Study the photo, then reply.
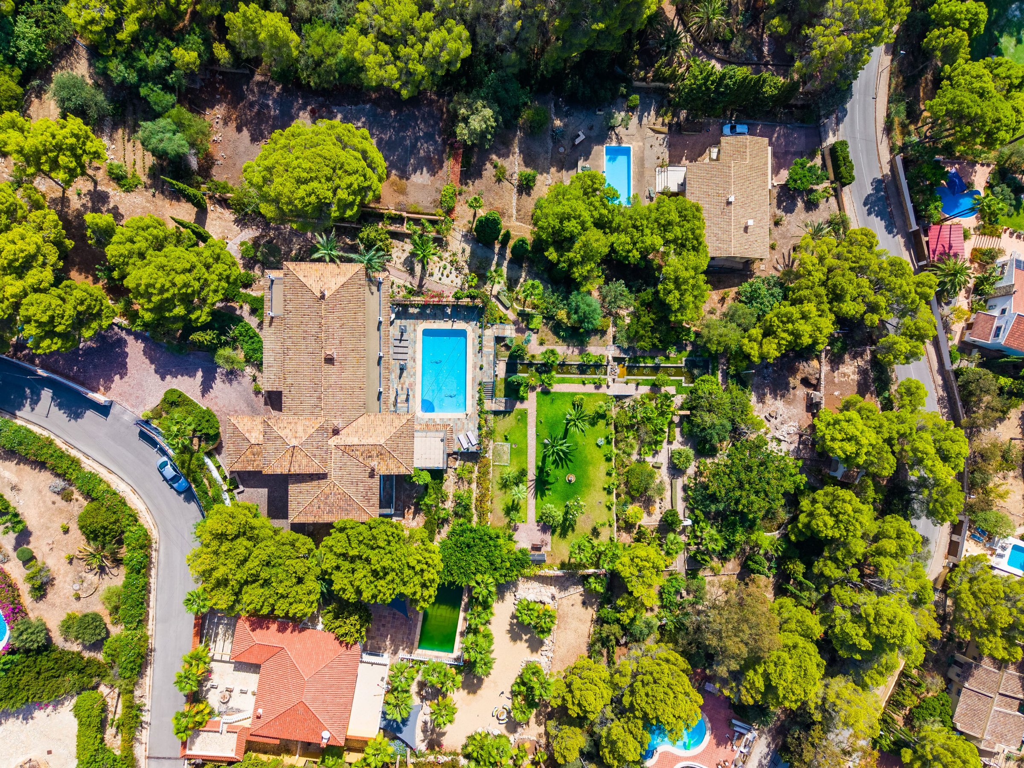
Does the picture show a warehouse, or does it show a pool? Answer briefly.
pool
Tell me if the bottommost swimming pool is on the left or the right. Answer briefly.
right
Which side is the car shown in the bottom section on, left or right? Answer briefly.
left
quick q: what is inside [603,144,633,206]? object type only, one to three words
swimming pool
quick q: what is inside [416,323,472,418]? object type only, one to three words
swimming pool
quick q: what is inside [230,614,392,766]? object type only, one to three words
house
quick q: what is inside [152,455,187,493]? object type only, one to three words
car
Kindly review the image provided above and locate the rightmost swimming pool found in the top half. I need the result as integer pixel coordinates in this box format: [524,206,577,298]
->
[939,182,986,220]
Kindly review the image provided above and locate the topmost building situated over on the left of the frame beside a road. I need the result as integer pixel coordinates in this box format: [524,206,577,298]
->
[225,261,453,523]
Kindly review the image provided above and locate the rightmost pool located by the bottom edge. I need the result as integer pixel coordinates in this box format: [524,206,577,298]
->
[639,702,711,762]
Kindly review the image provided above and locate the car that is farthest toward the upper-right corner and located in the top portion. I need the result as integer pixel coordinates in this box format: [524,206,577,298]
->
[723,120,752,136]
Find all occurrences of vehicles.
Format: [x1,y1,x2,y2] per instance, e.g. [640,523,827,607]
[152,455,187,493]
[723,120,752,136]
